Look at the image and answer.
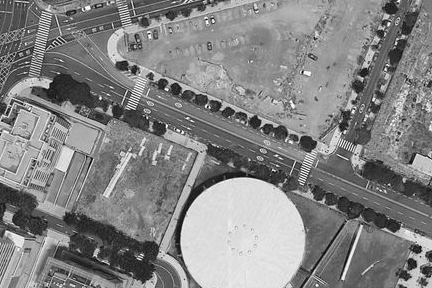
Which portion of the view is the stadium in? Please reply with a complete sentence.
You can find the stadium in the bottom area of the picture.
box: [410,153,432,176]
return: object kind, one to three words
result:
shed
